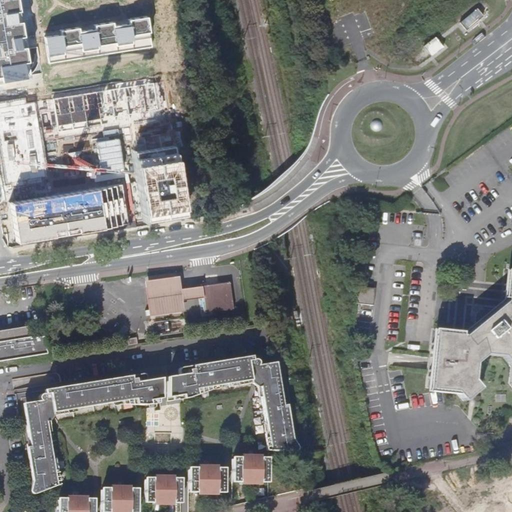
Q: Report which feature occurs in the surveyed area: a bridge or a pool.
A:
bridge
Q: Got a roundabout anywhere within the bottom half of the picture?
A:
No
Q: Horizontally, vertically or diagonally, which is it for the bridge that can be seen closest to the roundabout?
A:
diagonally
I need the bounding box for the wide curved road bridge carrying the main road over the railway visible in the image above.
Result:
[246,94,331,244]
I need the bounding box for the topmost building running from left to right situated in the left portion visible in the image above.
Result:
[42,18,154,63]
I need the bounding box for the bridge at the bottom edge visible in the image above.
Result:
[300,472,388,503]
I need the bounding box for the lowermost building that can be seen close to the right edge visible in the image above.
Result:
[422,262,512,402]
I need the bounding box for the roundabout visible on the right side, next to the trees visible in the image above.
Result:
[330,80,436,186]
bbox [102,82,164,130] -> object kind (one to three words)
building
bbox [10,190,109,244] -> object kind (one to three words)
building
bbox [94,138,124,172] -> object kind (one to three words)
shed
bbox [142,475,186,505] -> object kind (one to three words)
house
